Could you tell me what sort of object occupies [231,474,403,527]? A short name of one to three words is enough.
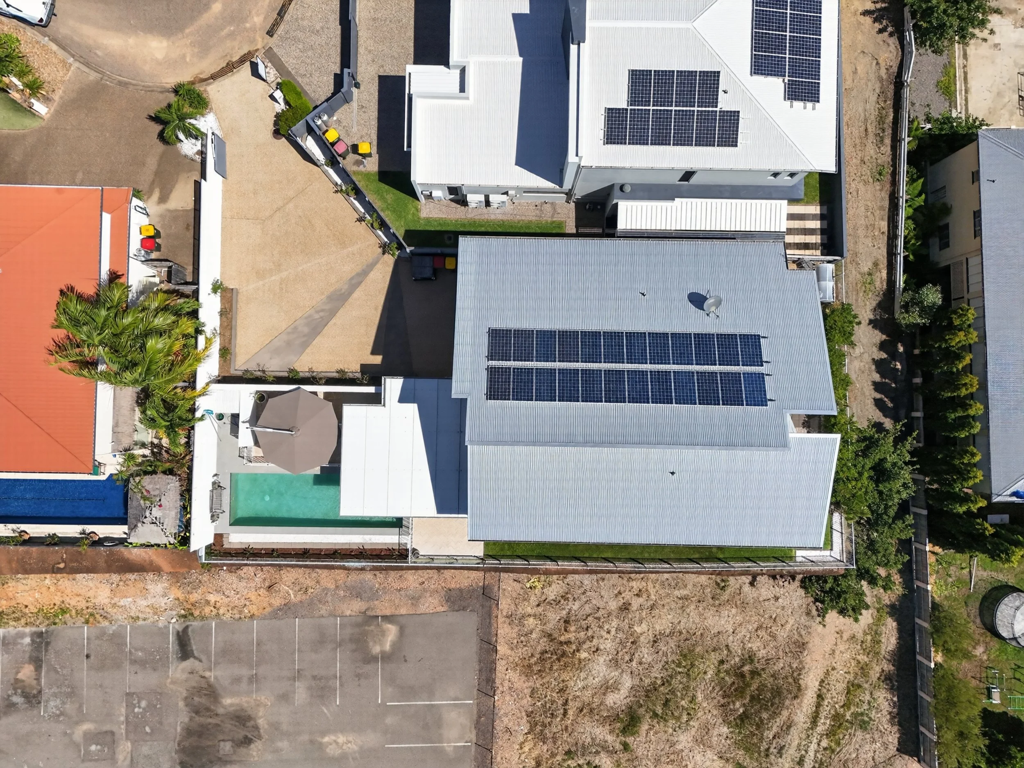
swimming pool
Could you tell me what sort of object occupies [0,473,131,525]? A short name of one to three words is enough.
swimming pool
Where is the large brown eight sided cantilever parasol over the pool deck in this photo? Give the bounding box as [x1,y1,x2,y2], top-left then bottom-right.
[244,387,339,475]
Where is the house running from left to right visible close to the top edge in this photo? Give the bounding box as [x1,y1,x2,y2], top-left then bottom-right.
[404,0,841,213]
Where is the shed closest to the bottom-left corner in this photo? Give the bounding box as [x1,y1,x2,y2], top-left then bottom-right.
[124,469,191,546]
